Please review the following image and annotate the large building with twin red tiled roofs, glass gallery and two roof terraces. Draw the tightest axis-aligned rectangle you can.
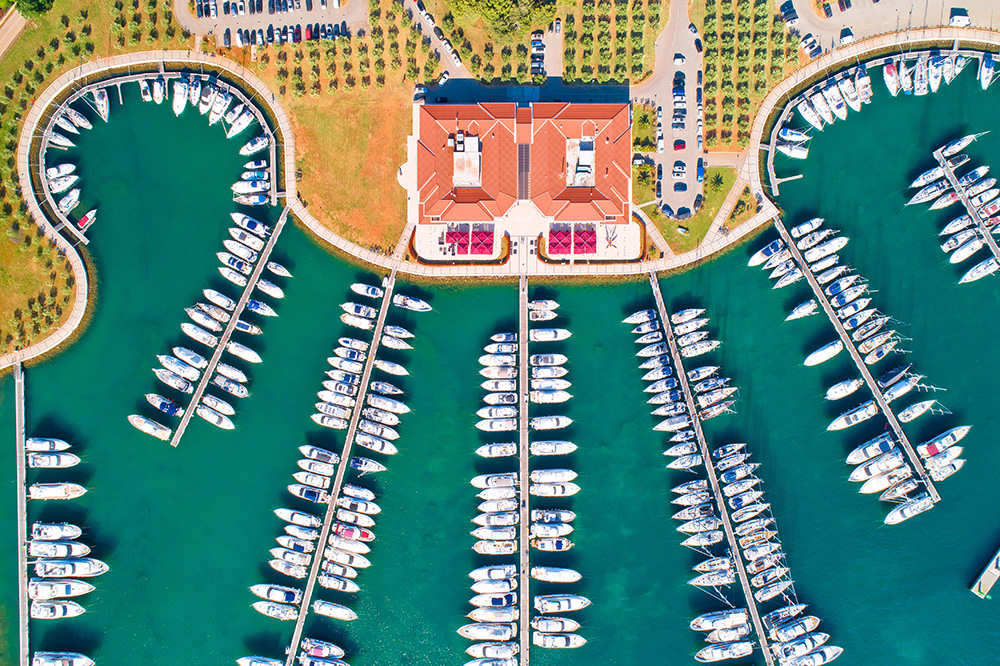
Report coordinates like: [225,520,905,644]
[417,102,631,227]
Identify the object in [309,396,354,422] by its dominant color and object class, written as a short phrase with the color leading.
white boat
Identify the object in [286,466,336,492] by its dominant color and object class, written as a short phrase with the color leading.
white boat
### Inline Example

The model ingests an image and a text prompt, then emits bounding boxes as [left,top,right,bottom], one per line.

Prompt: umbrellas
[549,231,561,242]
[549,242,561,254]
[482,242,494,254]
[561,231,571,242]
[585,242,597,254]
[471,231,482,242]
[458,231,470,242]
[471,242,482,254]
[573,242,585,254]
[446,231,458,243]
[458,242,470,254]
[561,242,571,254]
[573,231,585,242]
[585,231,597,242]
